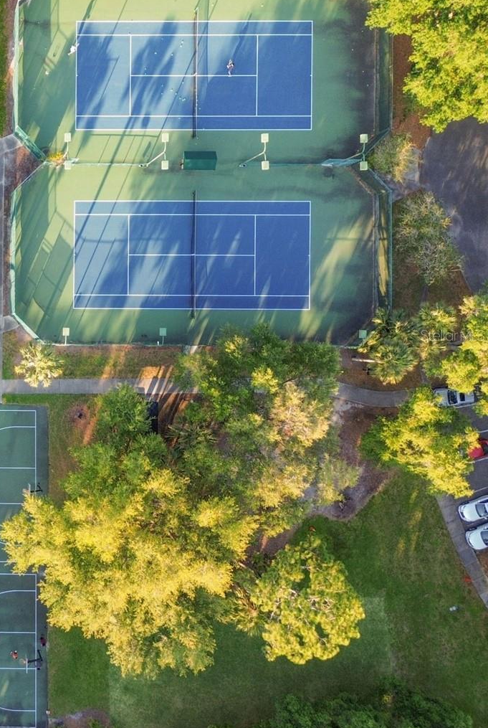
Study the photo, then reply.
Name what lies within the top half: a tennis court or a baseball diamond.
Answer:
tennis court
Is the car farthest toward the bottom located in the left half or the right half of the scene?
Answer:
right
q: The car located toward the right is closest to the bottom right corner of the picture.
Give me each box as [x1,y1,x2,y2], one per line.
[468,529,488,551]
